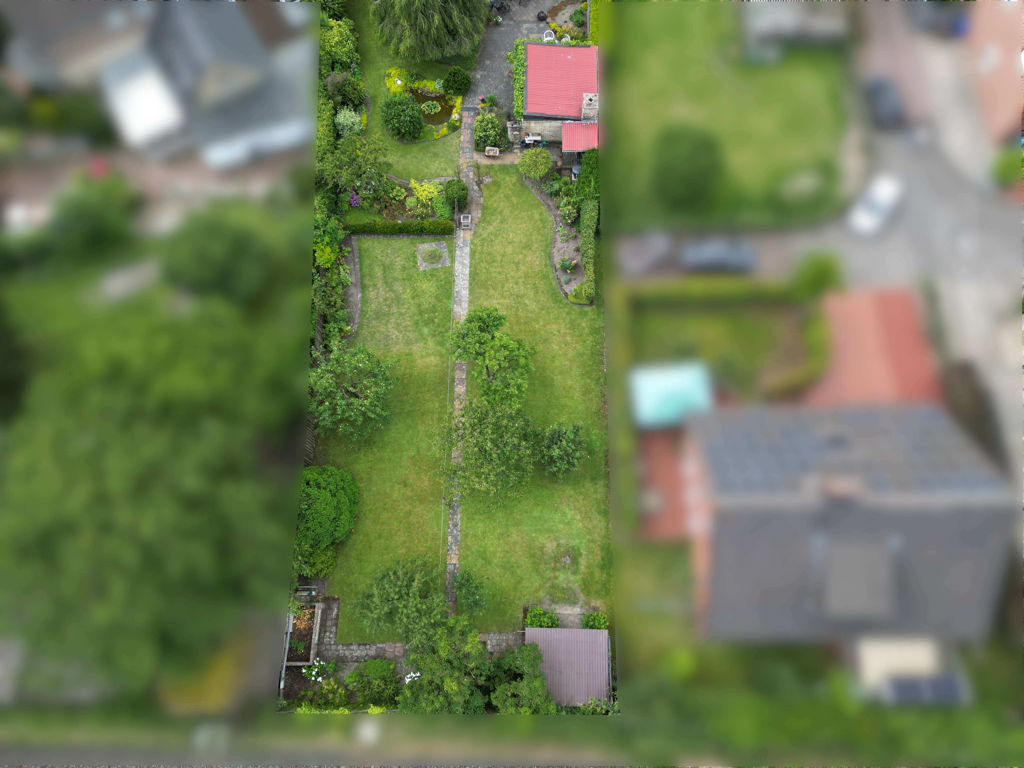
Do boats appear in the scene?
No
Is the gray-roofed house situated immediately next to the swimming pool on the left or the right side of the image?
right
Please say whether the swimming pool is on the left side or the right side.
right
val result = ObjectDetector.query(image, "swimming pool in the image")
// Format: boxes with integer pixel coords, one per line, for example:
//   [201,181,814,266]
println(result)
[631,359,719,432]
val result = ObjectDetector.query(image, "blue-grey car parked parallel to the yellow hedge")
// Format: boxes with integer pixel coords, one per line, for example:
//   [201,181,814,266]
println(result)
[681,241,751,275]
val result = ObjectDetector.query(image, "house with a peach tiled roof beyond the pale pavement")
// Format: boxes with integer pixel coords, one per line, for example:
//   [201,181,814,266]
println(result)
[936,0,1024,179]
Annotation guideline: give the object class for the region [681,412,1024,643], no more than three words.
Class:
house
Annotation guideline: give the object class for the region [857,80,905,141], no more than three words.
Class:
car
